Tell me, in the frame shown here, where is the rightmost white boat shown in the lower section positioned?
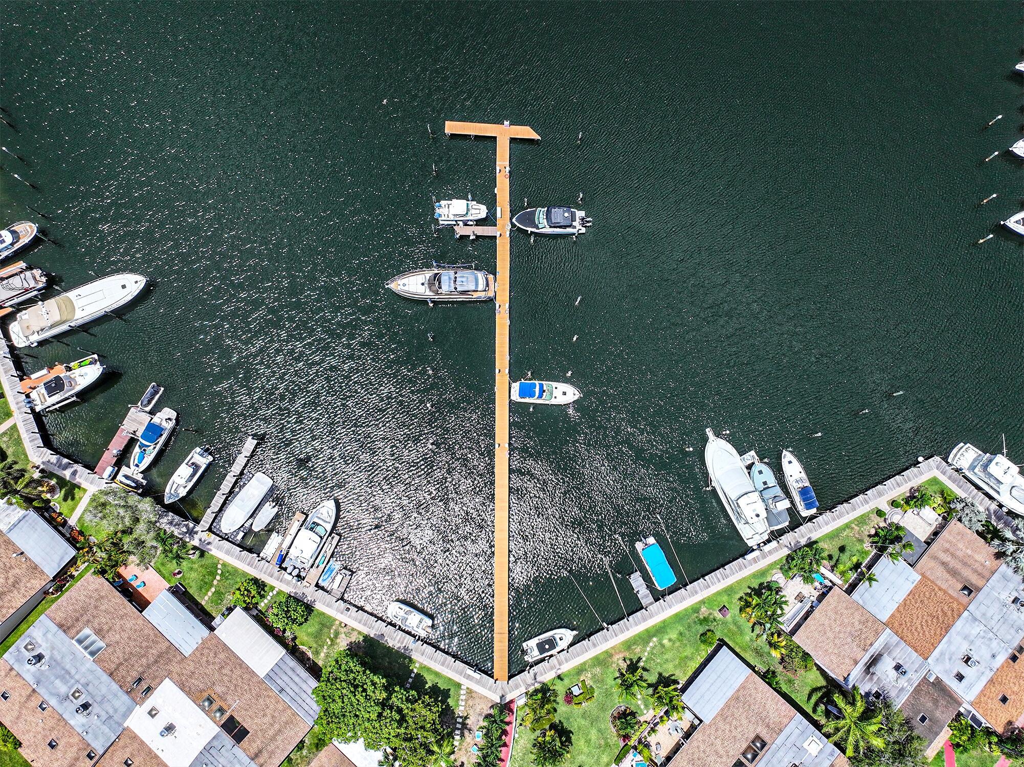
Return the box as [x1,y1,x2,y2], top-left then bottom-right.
[945,441,1024,510]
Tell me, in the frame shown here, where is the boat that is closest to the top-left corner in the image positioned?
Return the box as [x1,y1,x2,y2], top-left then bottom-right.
[0,225,42,261]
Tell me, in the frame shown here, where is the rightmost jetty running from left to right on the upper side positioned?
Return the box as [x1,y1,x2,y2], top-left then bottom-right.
[453,225,496,240]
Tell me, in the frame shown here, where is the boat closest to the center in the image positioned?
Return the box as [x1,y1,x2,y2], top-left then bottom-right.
[509,381,582,406]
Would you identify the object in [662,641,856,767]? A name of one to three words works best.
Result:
house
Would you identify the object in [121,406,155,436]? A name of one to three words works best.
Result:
pier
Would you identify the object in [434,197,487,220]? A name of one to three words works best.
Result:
boat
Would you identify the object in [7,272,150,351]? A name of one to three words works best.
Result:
boat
